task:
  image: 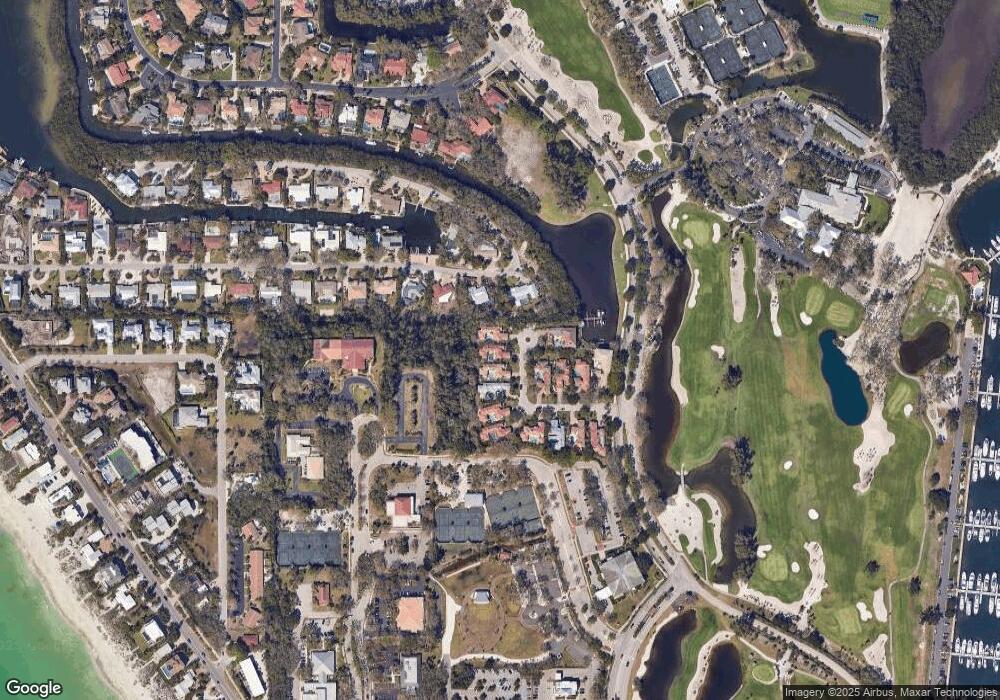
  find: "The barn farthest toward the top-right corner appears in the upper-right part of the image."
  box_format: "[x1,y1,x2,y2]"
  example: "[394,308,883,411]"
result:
[820,106,872,149]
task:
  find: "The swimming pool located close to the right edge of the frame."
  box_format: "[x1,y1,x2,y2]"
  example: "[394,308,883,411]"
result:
[970,284,984,304]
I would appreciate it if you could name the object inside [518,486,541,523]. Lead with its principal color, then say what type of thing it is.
gray tennis court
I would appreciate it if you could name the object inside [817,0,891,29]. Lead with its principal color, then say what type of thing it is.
green sports field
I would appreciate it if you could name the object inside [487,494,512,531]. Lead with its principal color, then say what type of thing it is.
gray tennis court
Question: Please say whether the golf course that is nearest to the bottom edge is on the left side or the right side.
right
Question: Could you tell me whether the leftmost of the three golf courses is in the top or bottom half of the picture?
top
